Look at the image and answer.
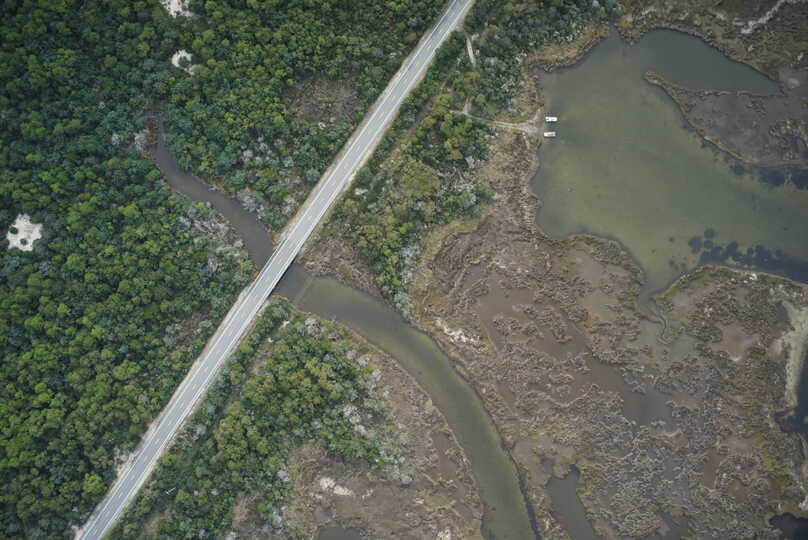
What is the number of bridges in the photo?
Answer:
one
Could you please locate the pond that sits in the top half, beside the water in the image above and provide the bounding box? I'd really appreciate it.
[529,25,808,342]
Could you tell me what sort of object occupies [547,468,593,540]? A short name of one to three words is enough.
pond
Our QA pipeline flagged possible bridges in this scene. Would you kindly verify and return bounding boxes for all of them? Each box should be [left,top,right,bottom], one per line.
[241,226,308,309]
